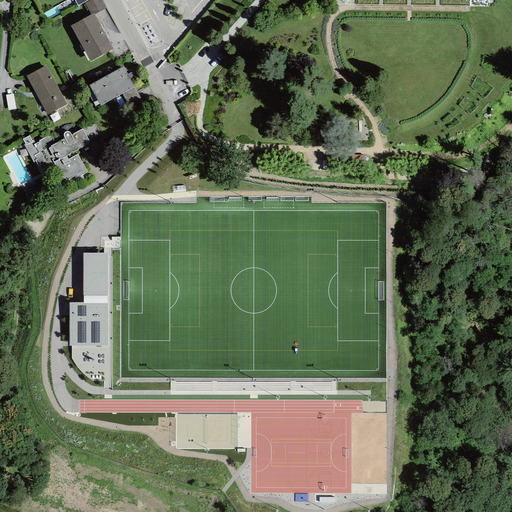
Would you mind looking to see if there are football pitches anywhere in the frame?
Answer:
Yes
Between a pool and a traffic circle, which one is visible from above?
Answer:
pool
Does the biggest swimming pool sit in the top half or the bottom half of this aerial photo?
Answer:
top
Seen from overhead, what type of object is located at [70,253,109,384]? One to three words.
building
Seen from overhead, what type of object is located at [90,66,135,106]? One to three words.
house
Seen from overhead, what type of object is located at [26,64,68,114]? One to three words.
house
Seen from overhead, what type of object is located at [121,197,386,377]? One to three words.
soccer field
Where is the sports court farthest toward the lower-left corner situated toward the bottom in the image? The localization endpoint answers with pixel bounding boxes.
[176,412,238,448]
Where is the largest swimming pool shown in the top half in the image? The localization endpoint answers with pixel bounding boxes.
[4,150,33,188]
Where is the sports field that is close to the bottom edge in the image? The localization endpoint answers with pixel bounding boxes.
[352,412,386,493]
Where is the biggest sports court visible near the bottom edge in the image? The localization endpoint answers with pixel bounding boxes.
[252,412,352,493]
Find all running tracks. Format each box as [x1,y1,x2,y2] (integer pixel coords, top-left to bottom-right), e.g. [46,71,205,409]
[80,400,363,412]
